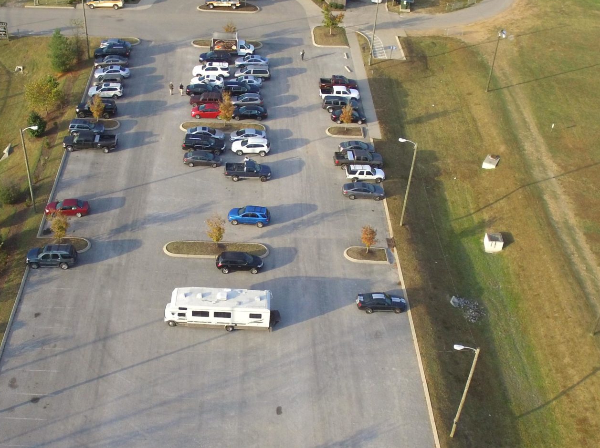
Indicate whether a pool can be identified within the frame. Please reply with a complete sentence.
No, the photo shows no pool.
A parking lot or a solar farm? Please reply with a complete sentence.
It's a parking lot.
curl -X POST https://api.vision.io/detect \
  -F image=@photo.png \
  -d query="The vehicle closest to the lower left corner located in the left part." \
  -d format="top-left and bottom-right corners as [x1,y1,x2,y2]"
[26,243,81,268]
